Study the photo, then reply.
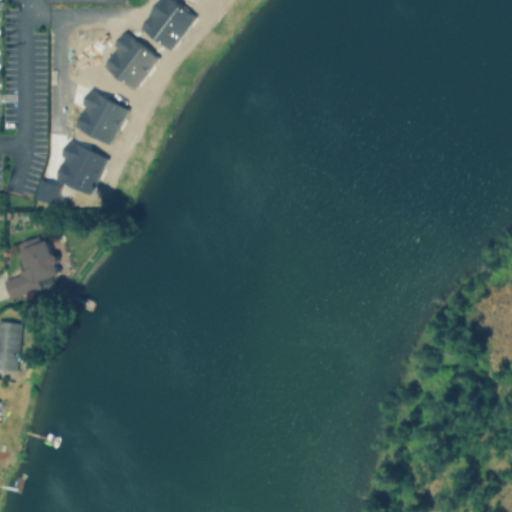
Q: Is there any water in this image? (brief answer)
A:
Yes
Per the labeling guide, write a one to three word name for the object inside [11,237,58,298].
house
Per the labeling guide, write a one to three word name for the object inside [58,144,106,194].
house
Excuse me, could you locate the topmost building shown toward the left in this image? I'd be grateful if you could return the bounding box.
[140,0,193,50]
